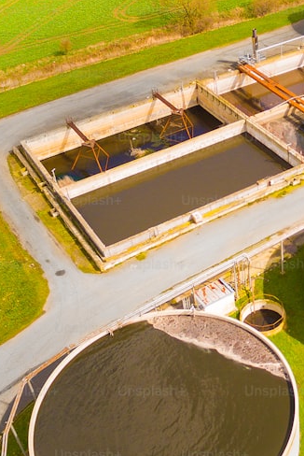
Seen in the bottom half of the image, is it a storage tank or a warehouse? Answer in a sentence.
The feature located in the bottom half of the image is a storage tank.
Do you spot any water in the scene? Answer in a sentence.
Yes, some water is visible.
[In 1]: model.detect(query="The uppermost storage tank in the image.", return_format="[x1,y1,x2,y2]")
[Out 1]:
[239,280,290,339]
